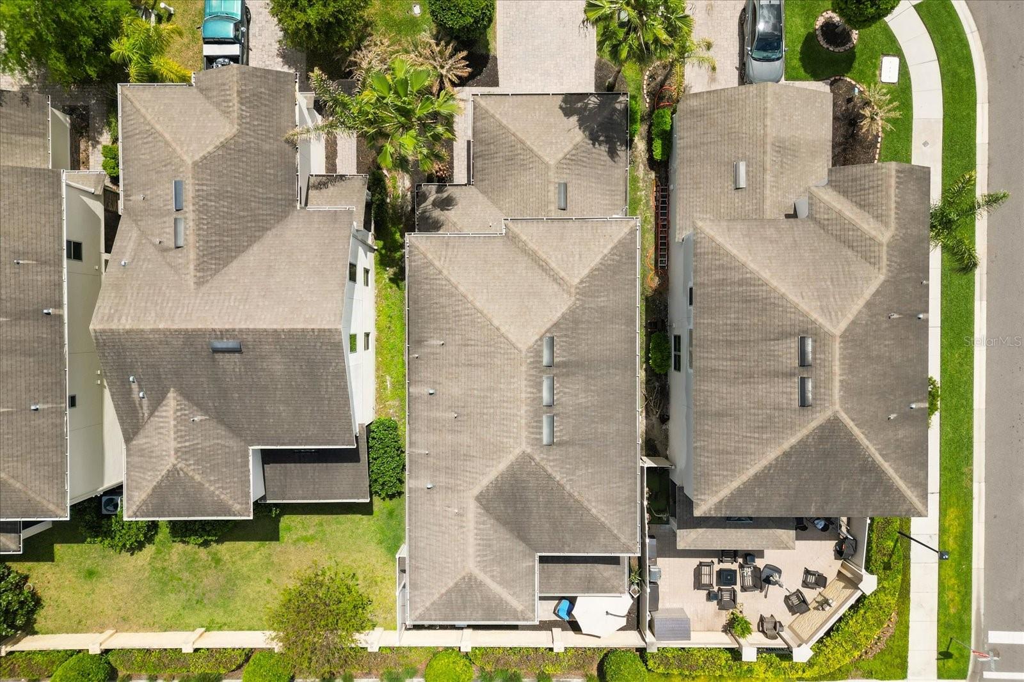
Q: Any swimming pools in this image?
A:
No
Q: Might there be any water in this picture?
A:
No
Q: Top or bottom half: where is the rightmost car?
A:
top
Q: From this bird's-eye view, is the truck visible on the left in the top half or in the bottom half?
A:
top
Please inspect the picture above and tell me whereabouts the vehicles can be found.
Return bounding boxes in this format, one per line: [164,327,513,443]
[203,0,249,72]
[744,0,791,84]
